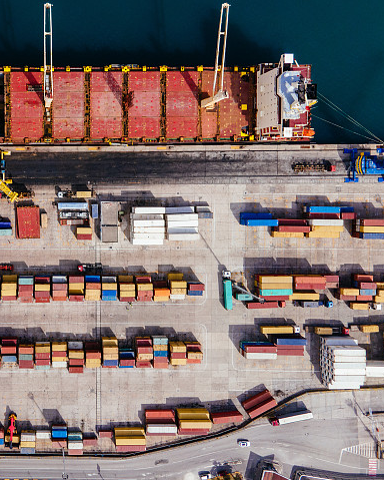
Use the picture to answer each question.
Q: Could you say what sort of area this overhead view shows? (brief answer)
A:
port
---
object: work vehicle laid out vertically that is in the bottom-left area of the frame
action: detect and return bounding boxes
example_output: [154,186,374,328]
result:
[5,415,20,448]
